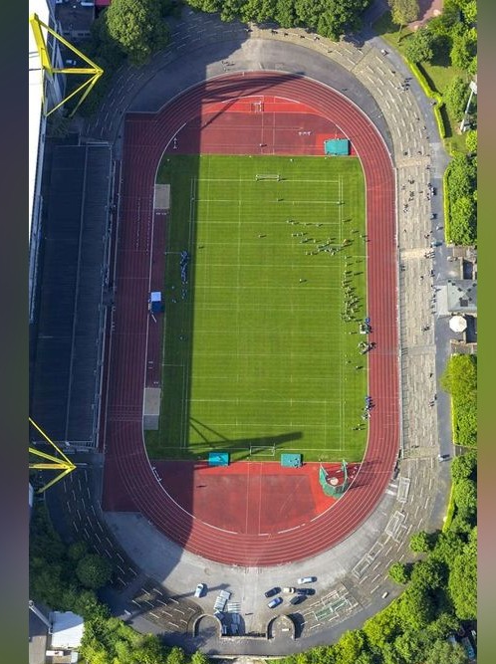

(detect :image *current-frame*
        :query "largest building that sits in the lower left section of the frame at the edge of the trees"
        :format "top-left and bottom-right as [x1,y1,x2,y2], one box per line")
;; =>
[50,610,83,651]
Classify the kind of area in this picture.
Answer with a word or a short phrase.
sports ground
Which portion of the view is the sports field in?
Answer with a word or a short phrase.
center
